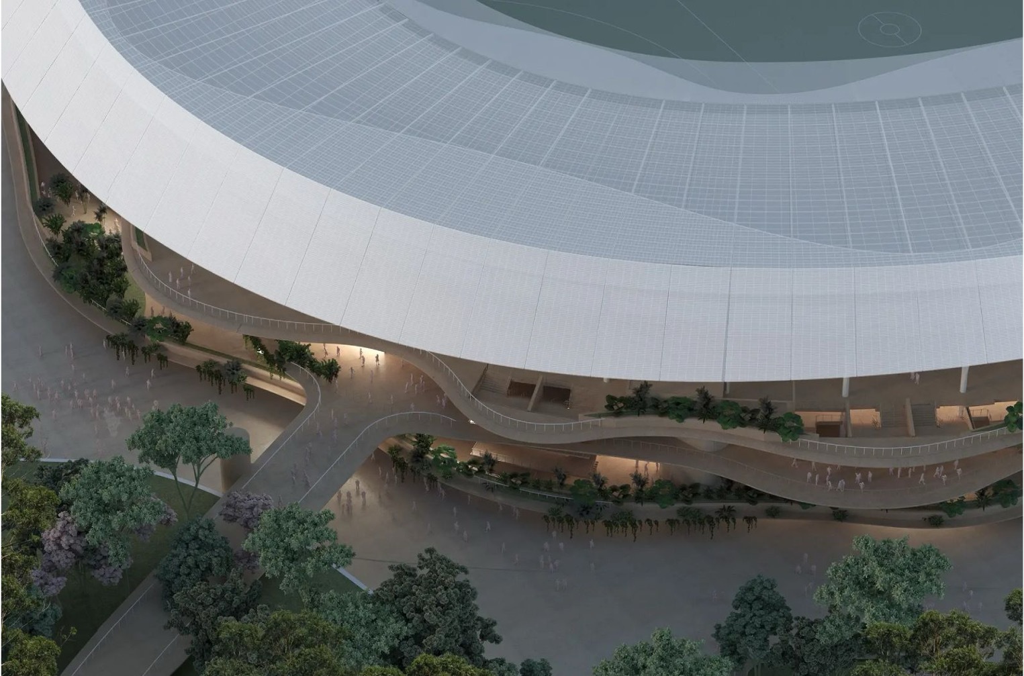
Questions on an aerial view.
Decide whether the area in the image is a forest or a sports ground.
sports ground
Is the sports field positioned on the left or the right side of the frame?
right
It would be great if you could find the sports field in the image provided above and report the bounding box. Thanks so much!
[473,0,1024,64]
